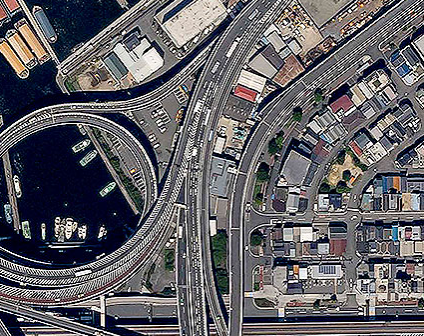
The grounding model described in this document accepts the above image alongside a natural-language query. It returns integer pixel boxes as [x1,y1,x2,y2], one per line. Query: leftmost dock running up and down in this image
[3,160,20,228]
